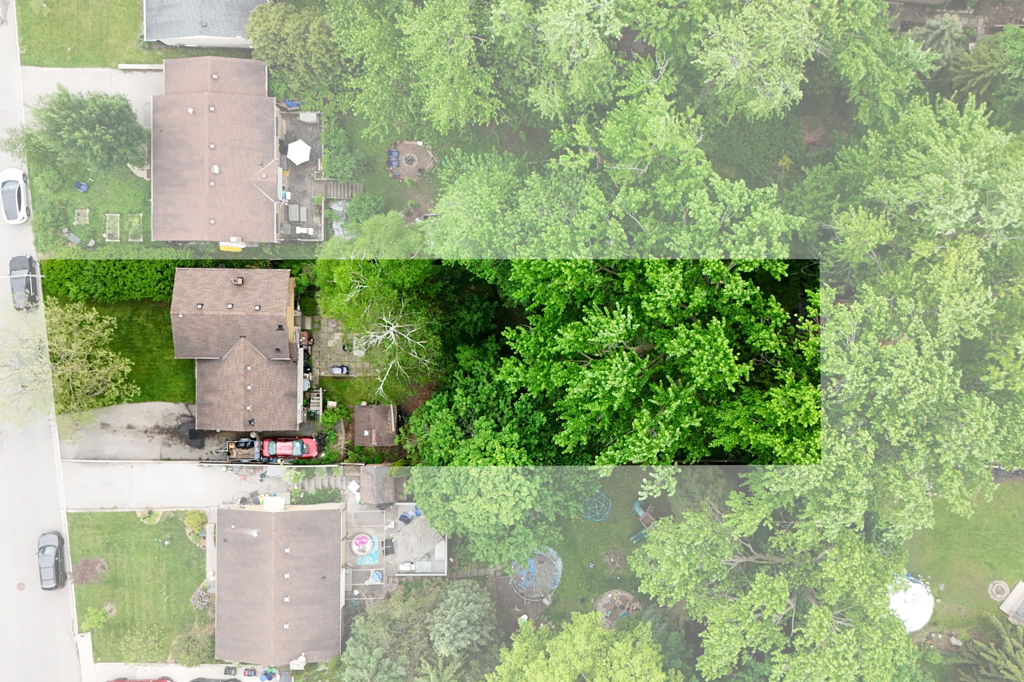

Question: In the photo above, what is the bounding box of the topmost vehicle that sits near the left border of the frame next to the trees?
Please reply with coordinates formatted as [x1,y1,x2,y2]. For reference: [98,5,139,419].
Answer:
[0,167,33,225]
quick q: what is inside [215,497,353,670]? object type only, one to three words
house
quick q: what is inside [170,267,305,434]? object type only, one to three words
house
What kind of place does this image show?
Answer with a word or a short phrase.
residential area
